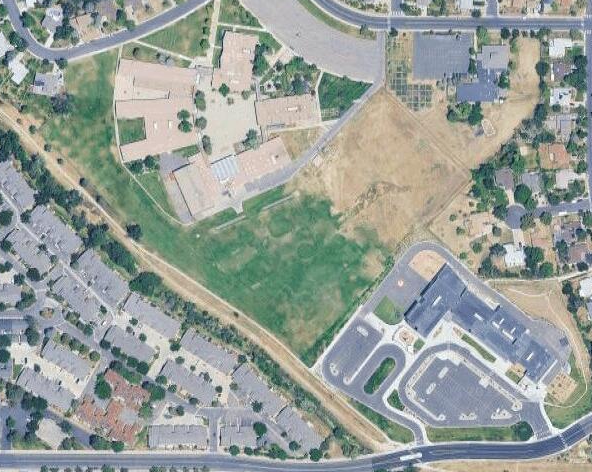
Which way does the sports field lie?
at an angle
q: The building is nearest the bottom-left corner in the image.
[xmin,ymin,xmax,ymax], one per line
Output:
[34,417,68,450]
